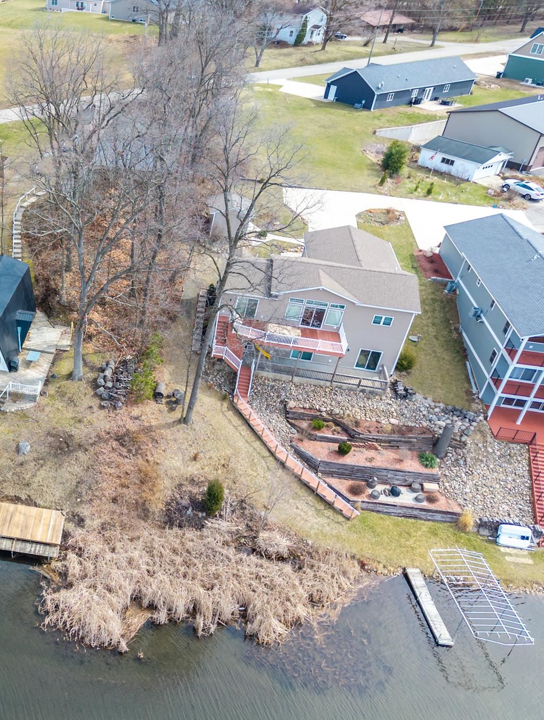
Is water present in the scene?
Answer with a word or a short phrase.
Yes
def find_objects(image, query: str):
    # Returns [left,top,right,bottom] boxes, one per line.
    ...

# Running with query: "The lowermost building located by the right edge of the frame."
[427,210,544,422]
